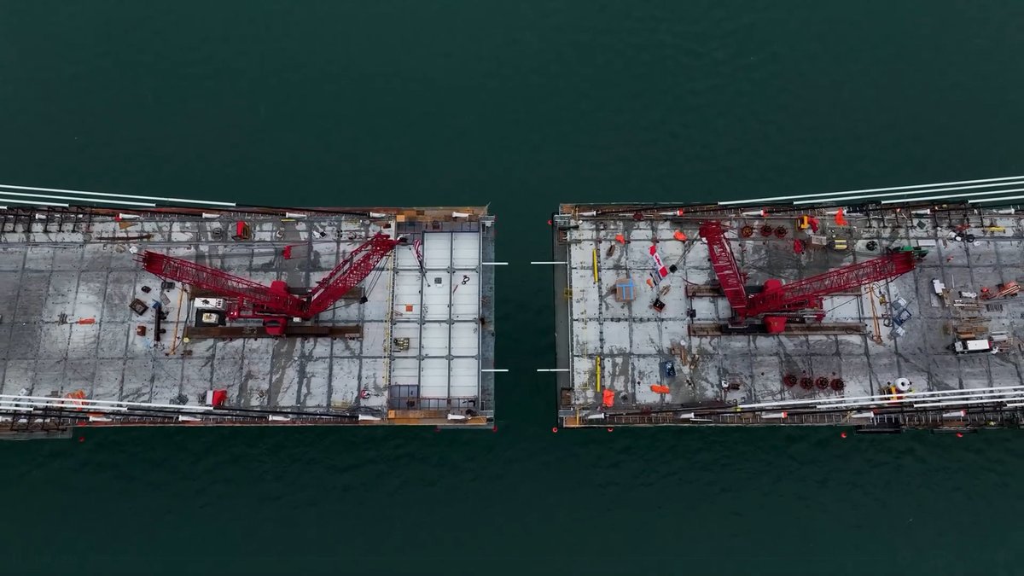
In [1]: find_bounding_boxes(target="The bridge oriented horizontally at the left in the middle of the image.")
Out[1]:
[0,184,509,441]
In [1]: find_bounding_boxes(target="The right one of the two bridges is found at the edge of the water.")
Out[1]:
[530,176,1024,438]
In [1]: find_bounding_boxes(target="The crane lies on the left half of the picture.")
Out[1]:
[133,232,426,336]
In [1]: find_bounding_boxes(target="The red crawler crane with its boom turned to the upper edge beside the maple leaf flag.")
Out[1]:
[668,214,920,335]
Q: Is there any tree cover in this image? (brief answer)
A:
No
